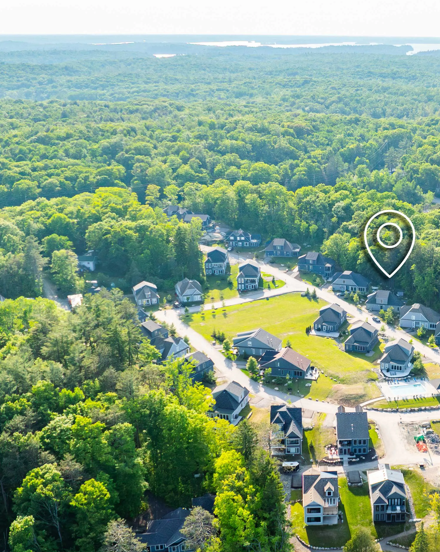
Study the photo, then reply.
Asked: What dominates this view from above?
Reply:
trees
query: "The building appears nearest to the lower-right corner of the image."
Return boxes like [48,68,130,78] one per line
[366,461,408,523]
